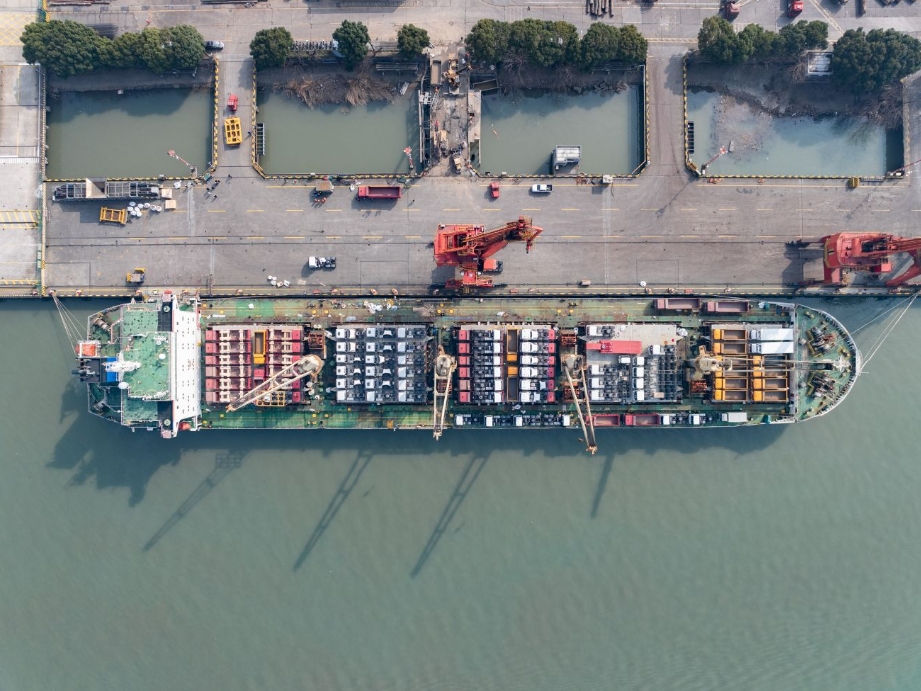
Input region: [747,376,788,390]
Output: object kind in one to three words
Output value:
vehicle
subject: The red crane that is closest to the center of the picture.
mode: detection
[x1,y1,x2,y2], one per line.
[434,218,543,287]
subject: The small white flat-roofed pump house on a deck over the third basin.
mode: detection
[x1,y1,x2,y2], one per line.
[548,144,582,176]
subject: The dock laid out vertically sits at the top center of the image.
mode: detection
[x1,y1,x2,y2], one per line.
[468,91,480,166]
